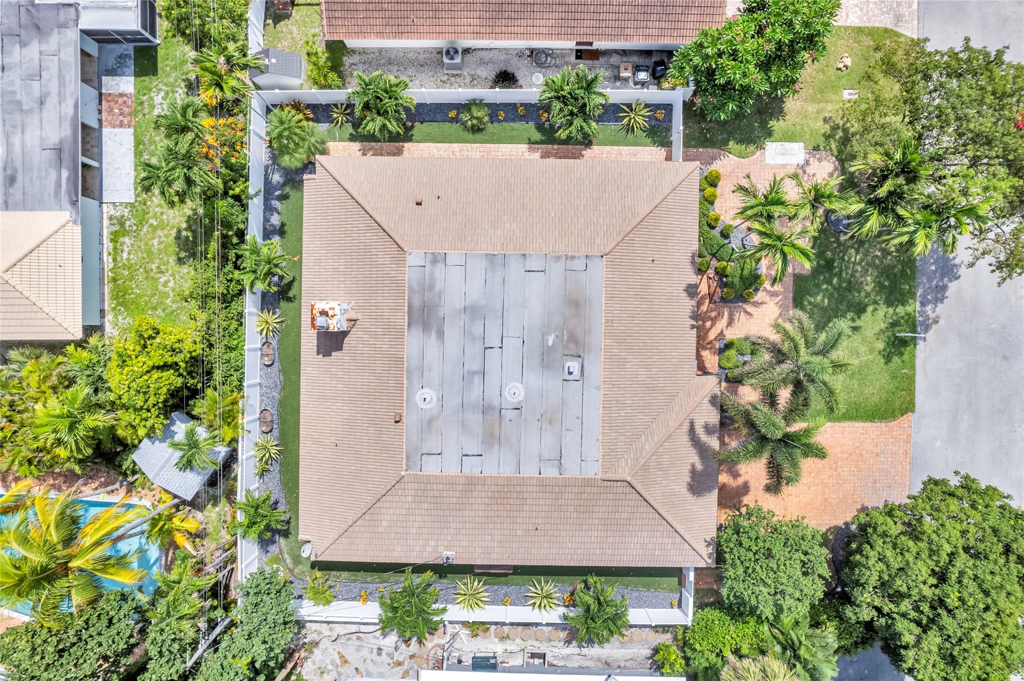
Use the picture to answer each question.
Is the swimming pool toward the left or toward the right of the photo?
left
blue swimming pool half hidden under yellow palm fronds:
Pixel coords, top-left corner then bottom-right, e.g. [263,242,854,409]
[0,491,168,620]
